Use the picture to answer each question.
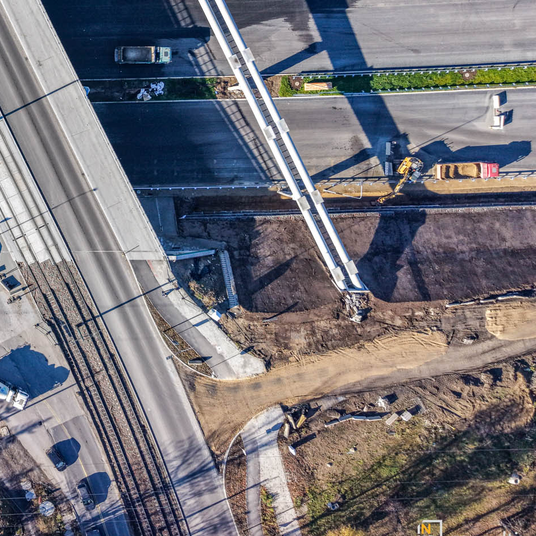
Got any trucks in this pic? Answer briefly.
Yes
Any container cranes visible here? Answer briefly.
No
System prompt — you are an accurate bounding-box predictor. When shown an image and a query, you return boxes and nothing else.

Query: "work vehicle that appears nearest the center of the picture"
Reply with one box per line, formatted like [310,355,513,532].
[372,141,421,206]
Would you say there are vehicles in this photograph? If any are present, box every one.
[372,141,421,206]
[44,443,67,473]
[75,478,96,512]
[429,159,501,181]
[114,44,172,66]
[0,381,33,418]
